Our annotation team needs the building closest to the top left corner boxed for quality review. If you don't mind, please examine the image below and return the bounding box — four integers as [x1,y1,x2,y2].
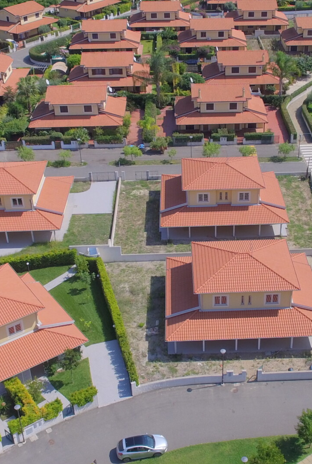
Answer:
[0,0,63,41]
